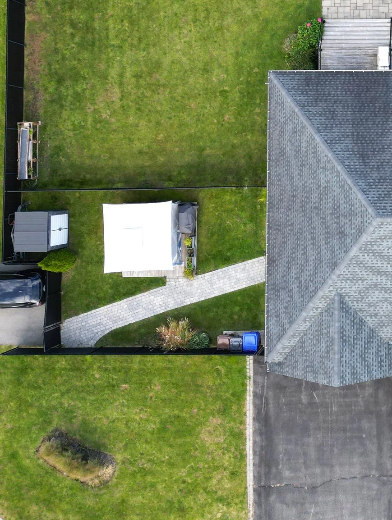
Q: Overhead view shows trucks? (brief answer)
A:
No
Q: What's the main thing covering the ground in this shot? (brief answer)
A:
grass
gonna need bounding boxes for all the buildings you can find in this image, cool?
[10,210,69,251]
[263,68,392,387]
